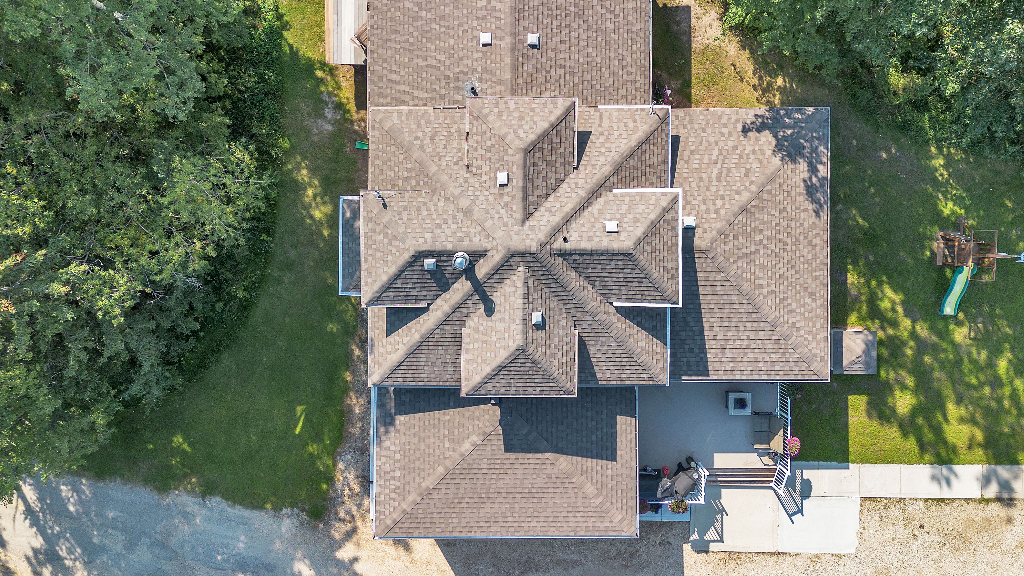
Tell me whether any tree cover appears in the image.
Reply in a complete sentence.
Yes, tree cover can be seen from above here.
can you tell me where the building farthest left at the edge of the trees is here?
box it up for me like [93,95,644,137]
[340,0,830,539]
